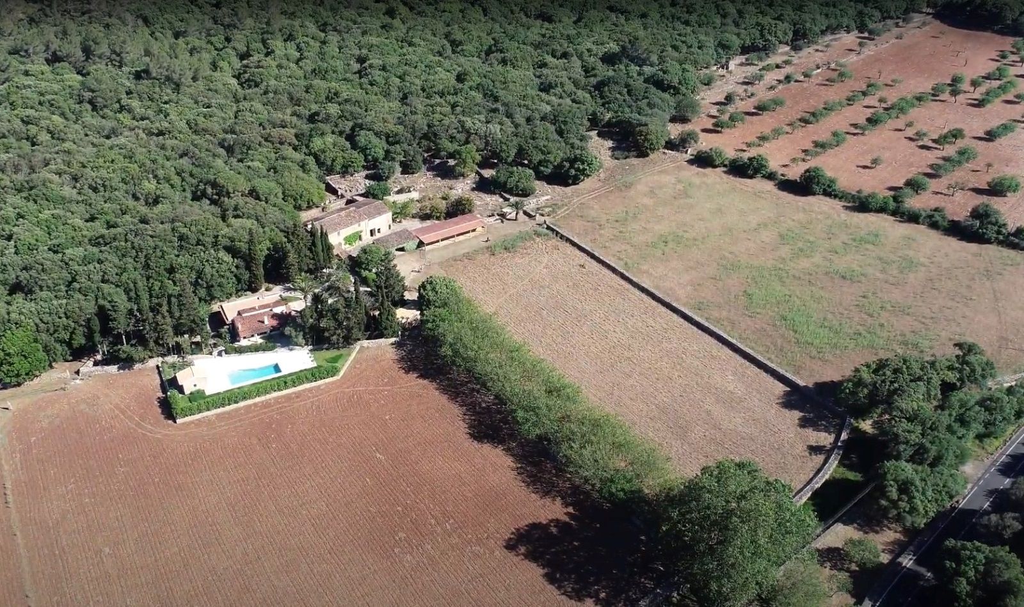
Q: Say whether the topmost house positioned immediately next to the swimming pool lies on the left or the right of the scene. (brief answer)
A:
left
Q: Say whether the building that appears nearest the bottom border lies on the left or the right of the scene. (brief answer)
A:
left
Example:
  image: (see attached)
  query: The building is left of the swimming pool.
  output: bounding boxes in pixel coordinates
[180,366,210,394]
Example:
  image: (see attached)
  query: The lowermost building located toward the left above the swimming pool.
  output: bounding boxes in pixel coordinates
[219,291,299,357]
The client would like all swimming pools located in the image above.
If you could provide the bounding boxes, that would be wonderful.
[227,363,283,386]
